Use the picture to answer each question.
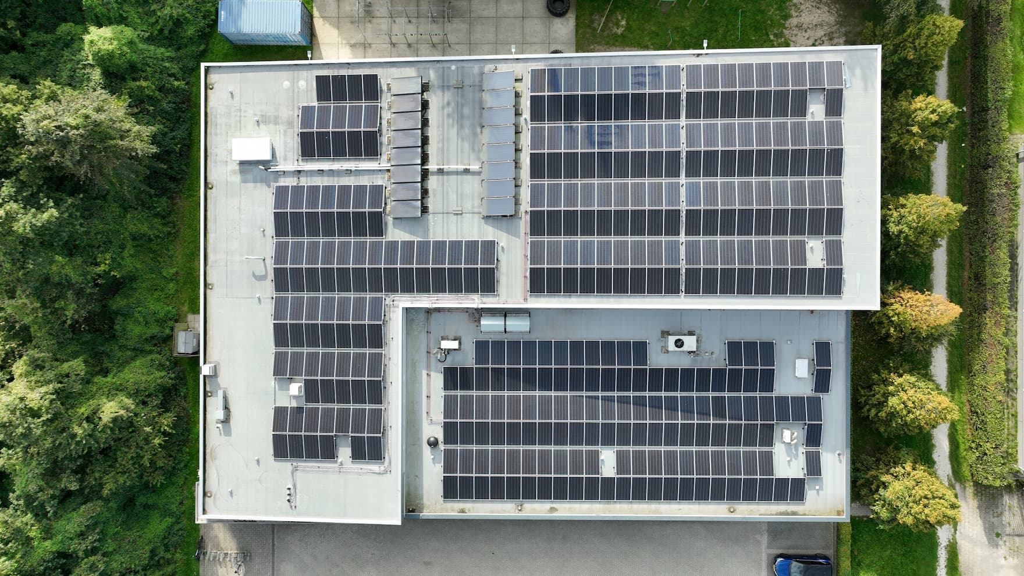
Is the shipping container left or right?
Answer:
left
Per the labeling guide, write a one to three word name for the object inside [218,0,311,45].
shipping container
